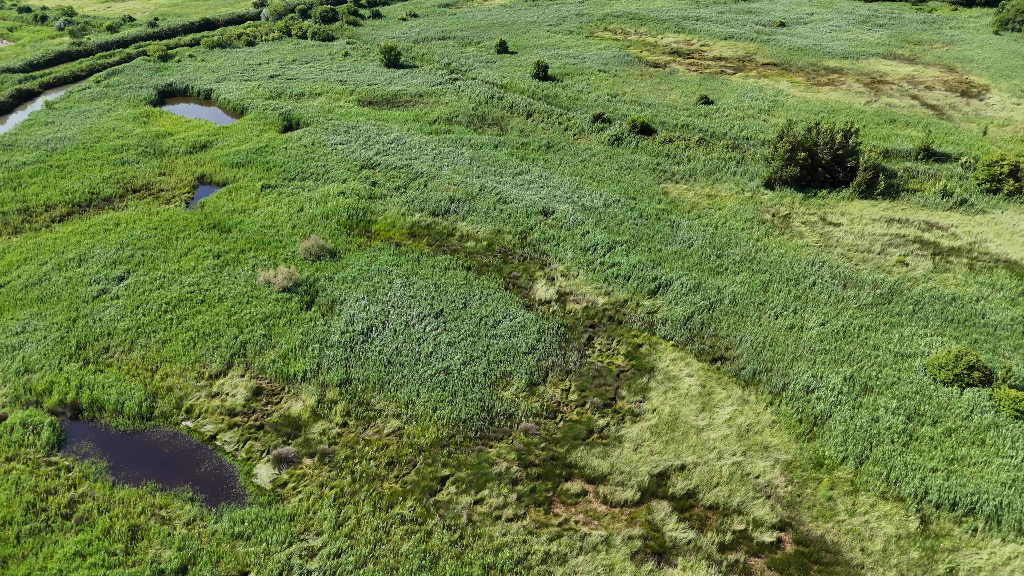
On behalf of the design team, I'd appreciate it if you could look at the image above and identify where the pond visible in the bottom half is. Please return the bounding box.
[59,419,253,514]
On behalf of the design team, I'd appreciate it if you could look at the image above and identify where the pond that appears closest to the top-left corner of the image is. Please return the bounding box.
[160,96,243,132]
